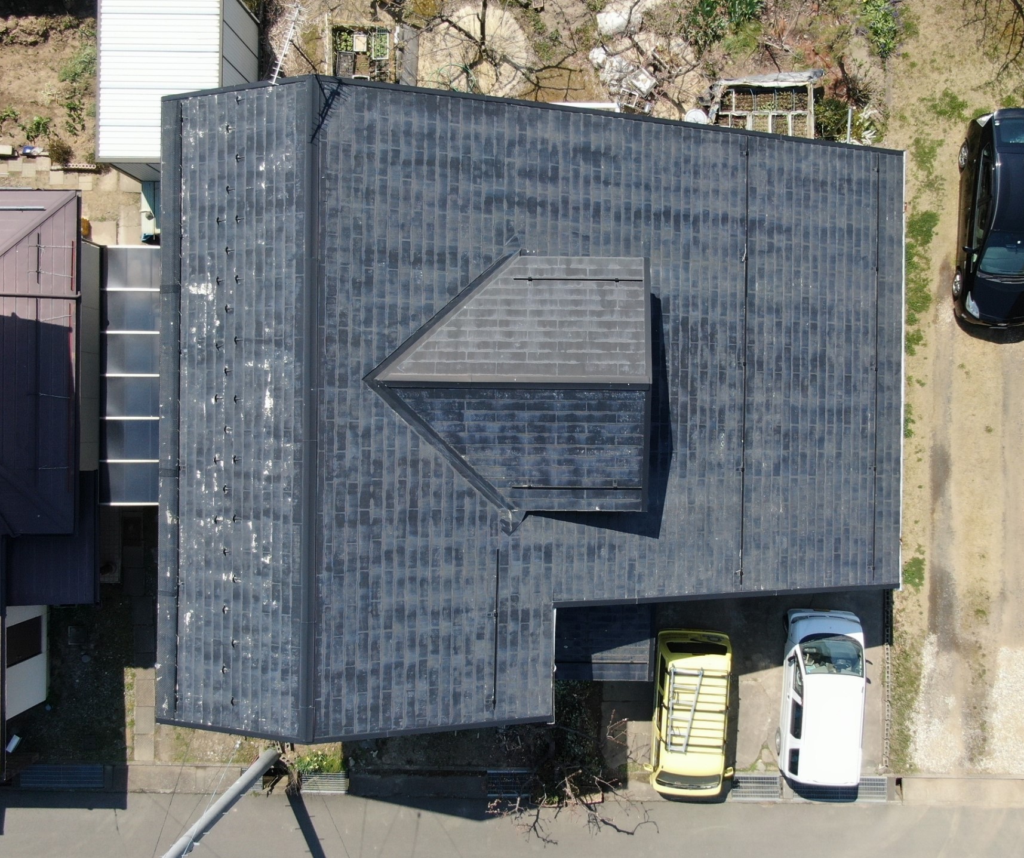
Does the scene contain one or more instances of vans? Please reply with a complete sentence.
Yes, looking at the shot, I can spot a van.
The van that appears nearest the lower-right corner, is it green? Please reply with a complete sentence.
No, from above the van that appears nearest the lower-right corner looks white.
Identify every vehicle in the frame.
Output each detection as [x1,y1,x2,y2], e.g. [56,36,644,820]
[642,631,739,803]
[952,110,1024,331]
[771,607,869,790]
